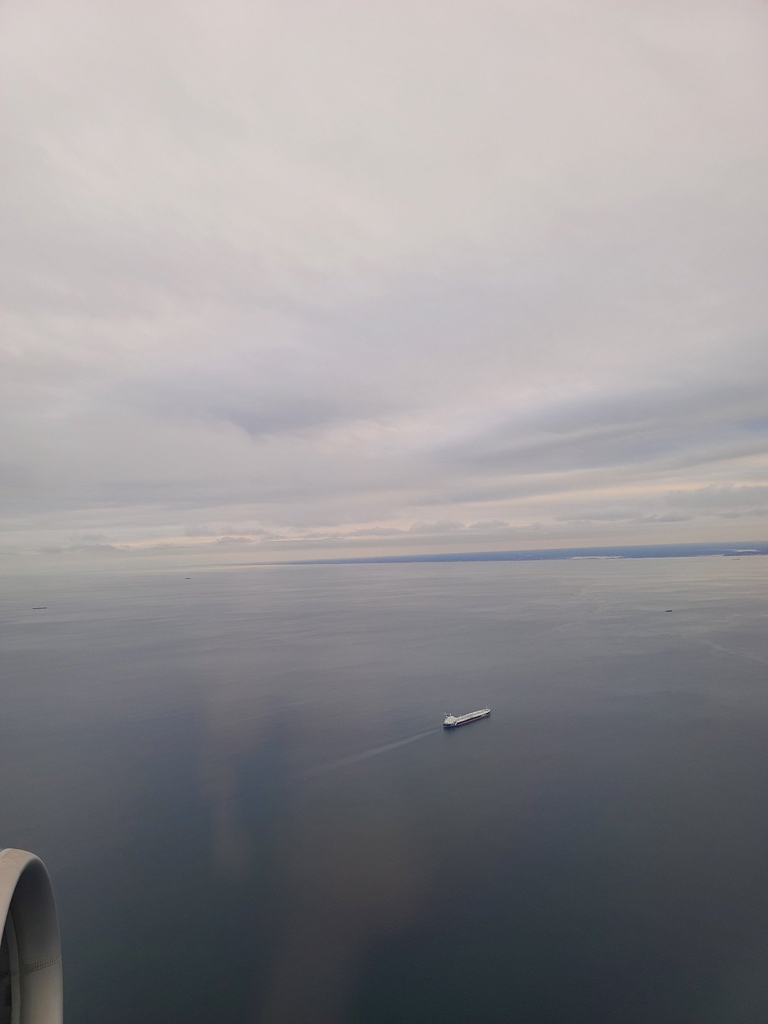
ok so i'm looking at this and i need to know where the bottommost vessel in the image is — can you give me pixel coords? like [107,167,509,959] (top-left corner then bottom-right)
[442,706,492,726]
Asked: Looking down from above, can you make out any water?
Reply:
Yes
